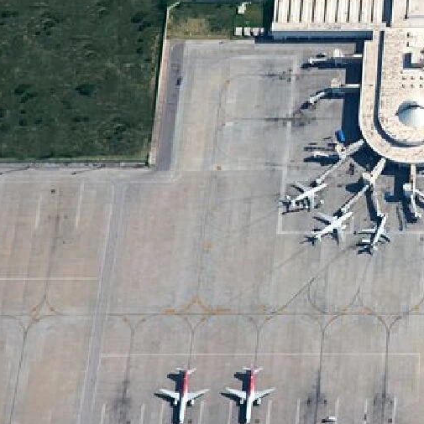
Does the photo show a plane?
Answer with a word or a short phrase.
Yes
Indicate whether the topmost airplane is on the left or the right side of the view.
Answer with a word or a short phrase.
right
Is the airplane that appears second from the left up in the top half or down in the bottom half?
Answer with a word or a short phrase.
bottom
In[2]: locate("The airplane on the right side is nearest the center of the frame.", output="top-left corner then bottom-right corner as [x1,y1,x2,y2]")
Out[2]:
[287,177,326,212]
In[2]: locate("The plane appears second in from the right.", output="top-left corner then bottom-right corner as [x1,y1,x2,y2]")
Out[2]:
[311,208,352,243]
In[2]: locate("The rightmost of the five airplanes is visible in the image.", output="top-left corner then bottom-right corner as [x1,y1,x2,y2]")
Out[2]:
[358,216,397,250]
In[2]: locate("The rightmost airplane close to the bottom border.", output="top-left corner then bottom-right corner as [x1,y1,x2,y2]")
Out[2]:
[225,369,276,423]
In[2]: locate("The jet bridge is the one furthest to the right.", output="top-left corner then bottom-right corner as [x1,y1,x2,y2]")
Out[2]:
[402,167,424,220]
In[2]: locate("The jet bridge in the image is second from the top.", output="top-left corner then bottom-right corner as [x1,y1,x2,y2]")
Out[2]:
[305,79,361,105]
